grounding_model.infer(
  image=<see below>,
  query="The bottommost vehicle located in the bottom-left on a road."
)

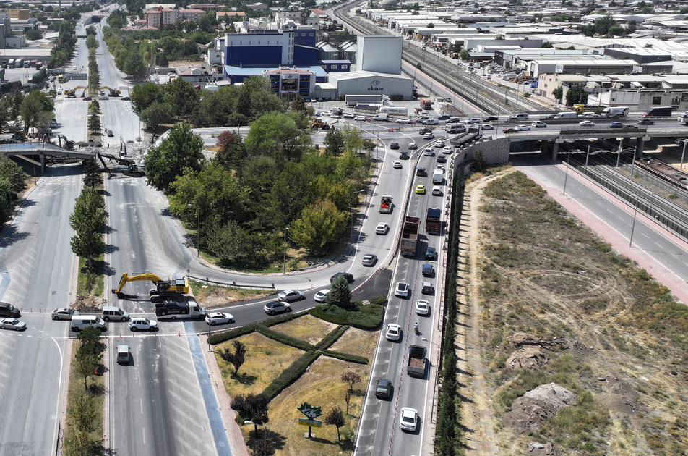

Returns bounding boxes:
[114,345,132,365]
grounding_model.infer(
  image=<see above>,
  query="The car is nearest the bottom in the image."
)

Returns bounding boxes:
[399,407,420,433]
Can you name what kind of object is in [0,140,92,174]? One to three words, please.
bridge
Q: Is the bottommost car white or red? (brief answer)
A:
white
